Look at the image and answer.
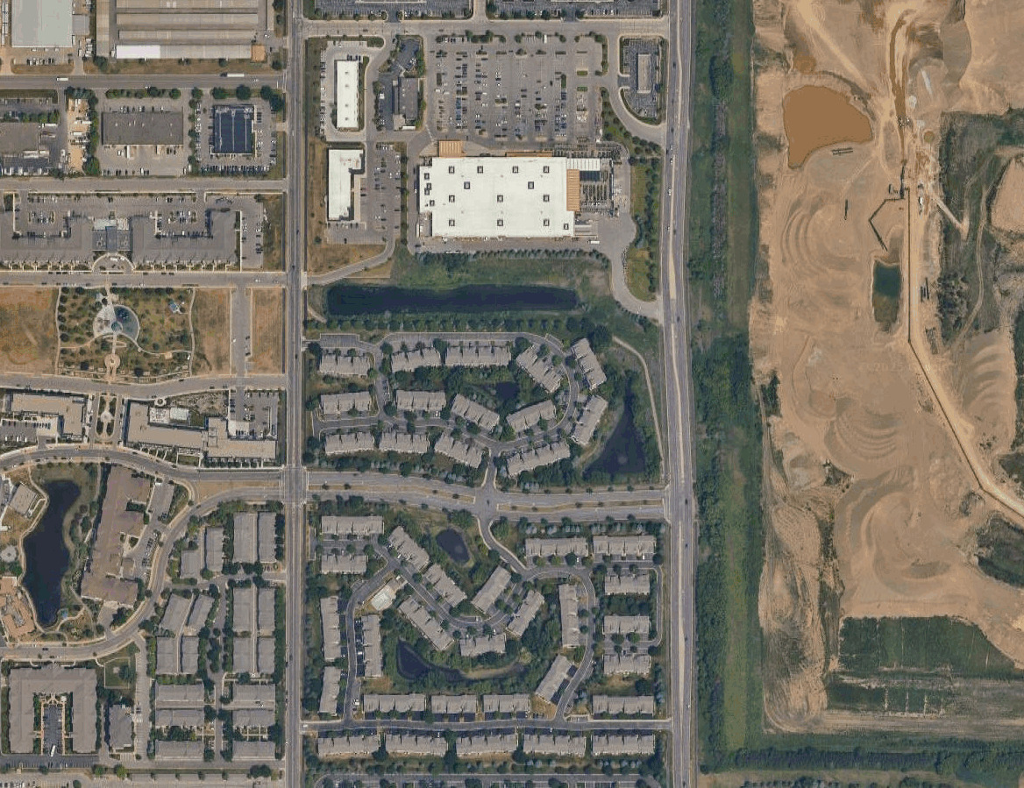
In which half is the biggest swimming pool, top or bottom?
bottom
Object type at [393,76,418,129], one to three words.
building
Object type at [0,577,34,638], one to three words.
building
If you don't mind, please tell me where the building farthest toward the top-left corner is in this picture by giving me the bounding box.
[10,0,72,50]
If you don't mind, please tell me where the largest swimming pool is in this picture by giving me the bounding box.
[363,582,397,615]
